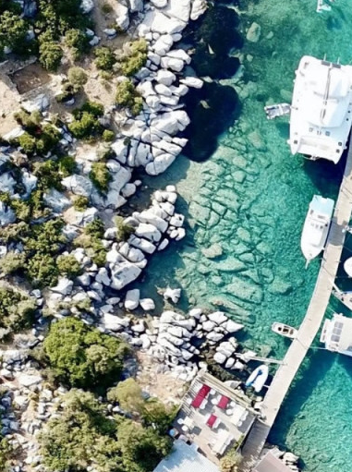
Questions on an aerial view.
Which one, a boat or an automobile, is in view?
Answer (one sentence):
Visible in the photo is a boat.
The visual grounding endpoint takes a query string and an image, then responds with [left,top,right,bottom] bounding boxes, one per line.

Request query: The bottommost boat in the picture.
[244,365,270,394]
